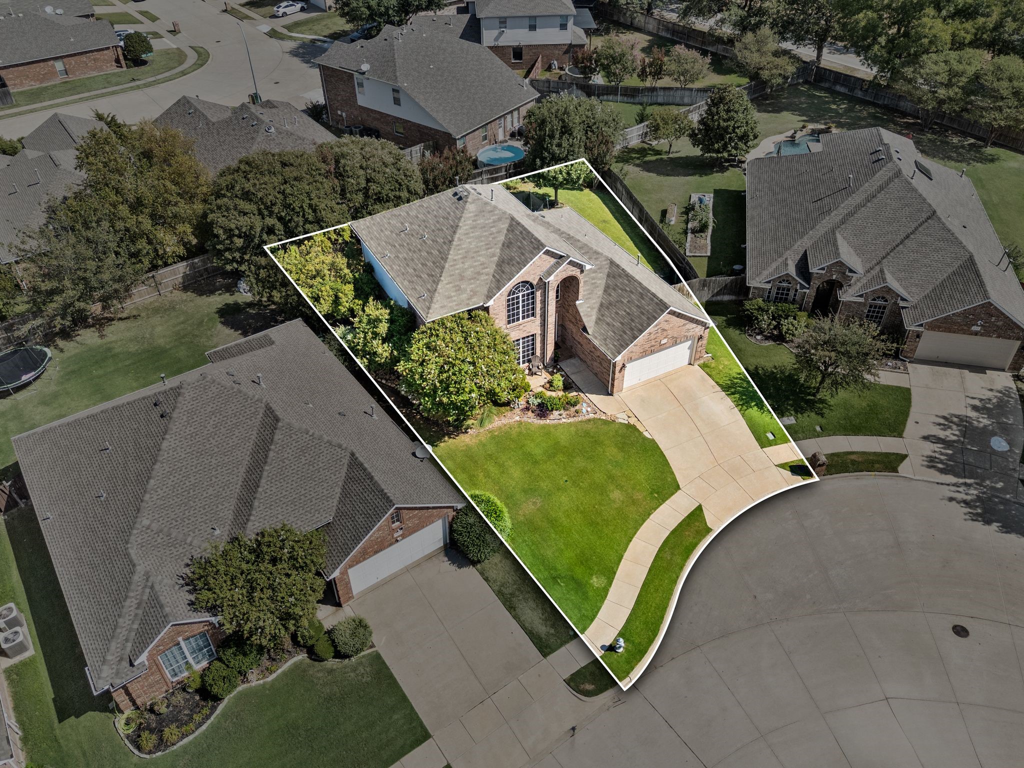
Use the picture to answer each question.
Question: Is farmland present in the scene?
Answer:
No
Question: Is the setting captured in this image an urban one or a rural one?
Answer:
urban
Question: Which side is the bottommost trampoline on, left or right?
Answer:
left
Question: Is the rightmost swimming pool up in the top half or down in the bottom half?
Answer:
top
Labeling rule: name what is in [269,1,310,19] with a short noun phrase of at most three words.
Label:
car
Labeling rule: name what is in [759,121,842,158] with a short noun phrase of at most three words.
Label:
swimming pool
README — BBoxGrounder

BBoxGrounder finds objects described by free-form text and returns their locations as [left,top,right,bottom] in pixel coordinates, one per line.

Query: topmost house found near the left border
[0,0,126,91]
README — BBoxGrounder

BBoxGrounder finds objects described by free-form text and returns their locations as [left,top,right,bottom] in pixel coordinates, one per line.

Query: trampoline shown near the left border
[0,313,61,393]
